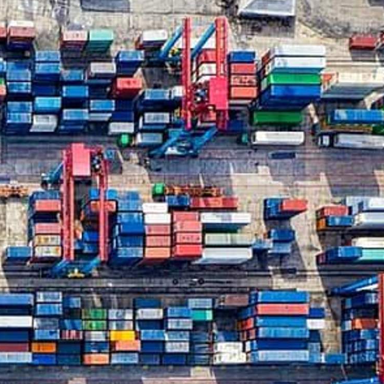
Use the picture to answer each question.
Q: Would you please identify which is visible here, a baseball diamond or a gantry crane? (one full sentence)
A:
I can see a gantry crane in this picture.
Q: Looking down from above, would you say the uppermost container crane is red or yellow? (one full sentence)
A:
The color of the uppermost container crane is red.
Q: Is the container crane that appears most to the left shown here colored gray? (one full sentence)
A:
No, the container crane that appears most to the left is actually red.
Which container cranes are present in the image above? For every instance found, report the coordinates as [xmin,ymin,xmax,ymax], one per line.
[40,141,110,283]
[328,272,384,384]
[148,19,228,164]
